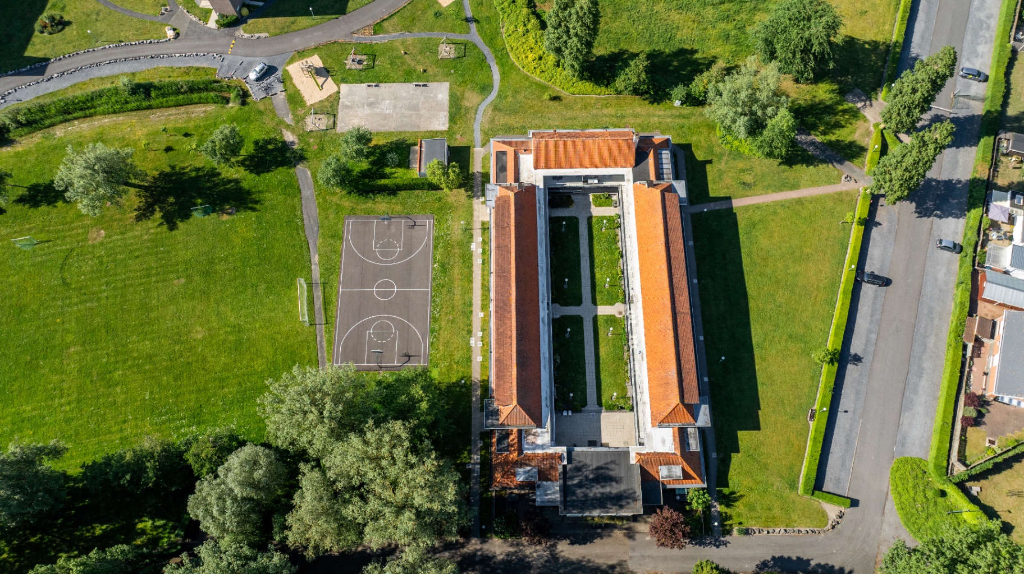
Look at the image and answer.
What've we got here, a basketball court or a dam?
basketball court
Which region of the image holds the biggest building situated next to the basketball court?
center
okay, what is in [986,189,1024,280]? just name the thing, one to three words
house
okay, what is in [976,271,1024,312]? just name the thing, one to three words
building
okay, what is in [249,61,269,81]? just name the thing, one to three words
car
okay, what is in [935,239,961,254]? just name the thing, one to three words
car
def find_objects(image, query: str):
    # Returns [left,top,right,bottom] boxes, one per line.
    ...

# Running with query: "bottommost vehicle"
[857,271,886,287]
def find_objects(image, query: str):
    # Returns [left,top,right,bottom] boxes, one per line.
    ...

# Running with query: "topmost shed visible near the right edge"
[995,130,1024,160]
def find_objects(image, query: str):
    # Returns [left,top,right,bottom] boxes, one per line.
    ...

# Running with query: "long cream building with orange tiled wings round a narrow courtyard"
[483,127,709,518]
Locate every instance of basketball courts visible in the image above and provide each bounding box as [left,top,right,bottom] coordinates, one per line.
[331,216,435,371]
